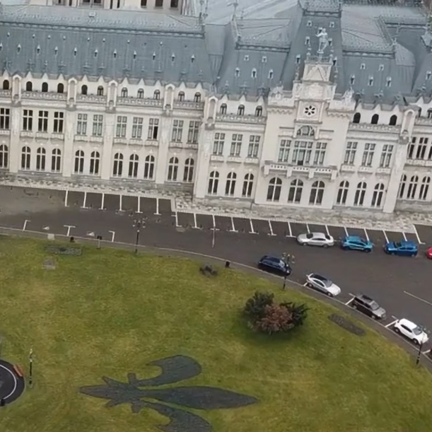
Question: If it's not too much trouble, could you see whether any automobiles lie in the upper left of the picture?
No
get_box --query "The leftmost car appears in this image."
[256,256,294,276]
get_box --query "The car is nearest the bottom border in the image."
[393,320,431,345]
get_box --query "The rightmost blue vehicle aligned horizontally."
[384,241,421,259]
